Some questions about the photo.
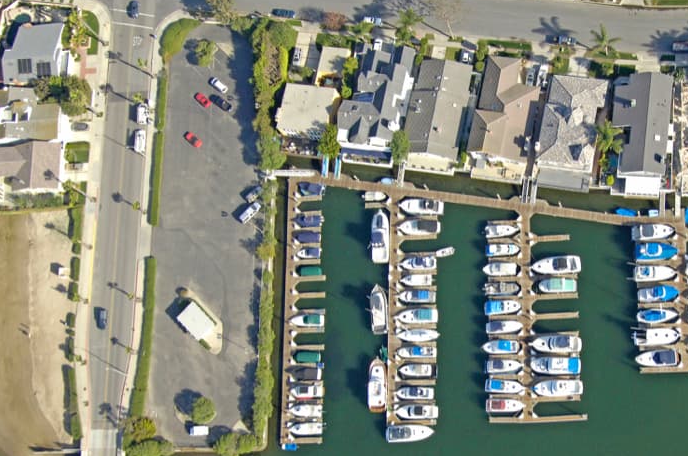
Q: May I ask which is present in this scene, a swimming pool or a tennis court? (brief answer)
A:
swimming pool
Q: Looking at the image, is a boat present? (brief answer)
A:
Yes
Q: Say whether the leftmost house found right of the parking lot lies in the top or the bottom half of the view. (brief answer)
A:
top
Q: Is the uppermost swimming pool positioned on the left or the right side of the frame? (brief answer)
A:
left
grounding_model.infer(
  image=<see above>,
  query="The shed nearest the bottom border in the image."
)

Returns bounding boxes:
[178,302,215,340]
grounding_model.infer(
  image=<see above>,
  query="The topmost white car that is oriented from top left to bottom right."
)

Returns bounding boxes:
[208,77,226,93]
